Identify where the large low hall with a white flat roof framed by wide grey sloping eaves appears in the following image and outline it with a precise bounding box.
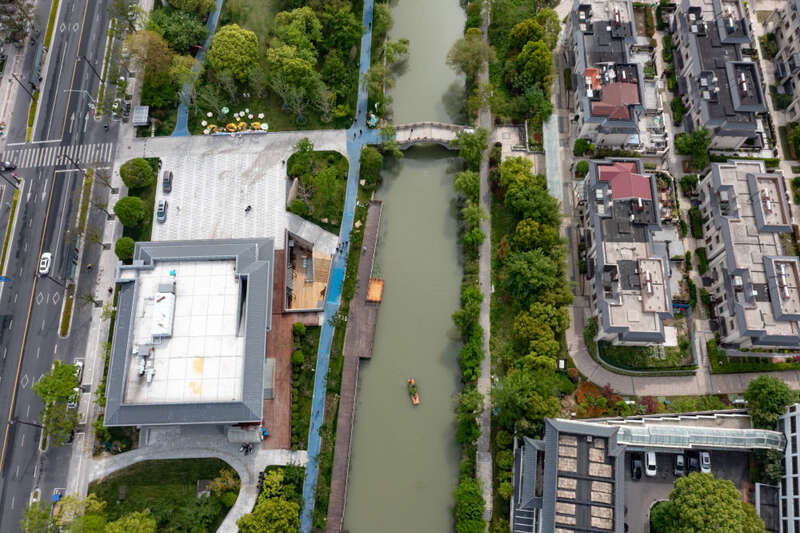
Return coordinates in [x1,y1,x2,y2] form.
[103,238,274,427]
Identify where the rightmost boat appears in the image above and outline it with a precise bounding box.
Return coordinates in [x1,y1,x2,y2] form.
[409,375,422,406]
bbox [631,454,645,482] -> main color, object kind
black vehicle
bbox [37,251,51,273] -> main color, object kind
white car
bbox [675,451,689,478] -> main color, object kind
gray car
